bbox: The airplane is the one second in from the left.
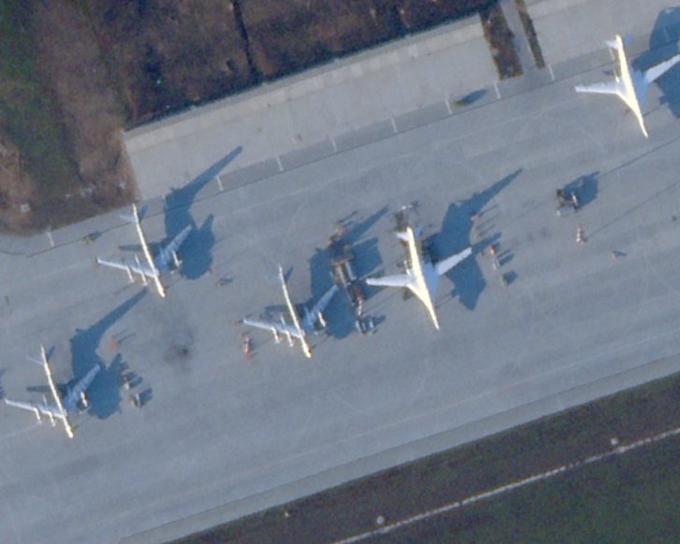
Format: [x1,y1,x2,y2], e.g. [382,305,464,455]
[100,207,194,297]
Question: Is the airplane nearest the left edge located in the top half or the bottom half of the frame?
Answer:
bottom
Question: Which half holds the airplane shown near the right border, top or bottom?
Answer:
top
